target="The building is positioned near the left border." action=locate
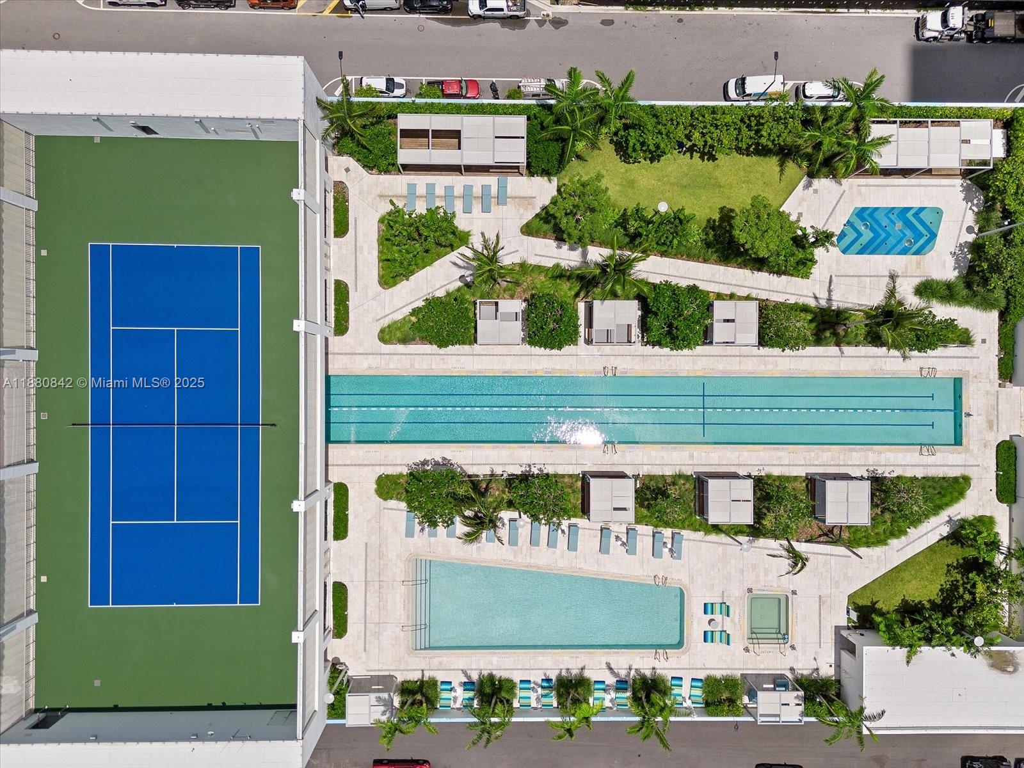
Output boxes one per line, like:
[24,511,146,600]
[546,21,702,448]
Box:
[0,49,336,768]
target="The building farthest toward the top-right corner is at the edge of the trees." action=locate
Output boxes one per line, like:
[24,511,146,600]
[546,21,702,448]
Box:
[846,119,993,181]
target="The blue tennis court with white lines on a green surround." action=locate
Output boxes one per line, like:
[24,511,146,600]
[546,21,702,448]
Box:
[34,136,298,711]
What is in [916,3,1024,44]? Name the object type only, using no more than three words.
truck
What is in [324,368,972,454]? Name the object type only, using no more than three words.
swimming pool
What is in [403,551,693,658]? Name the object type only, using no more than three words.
swimming pool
